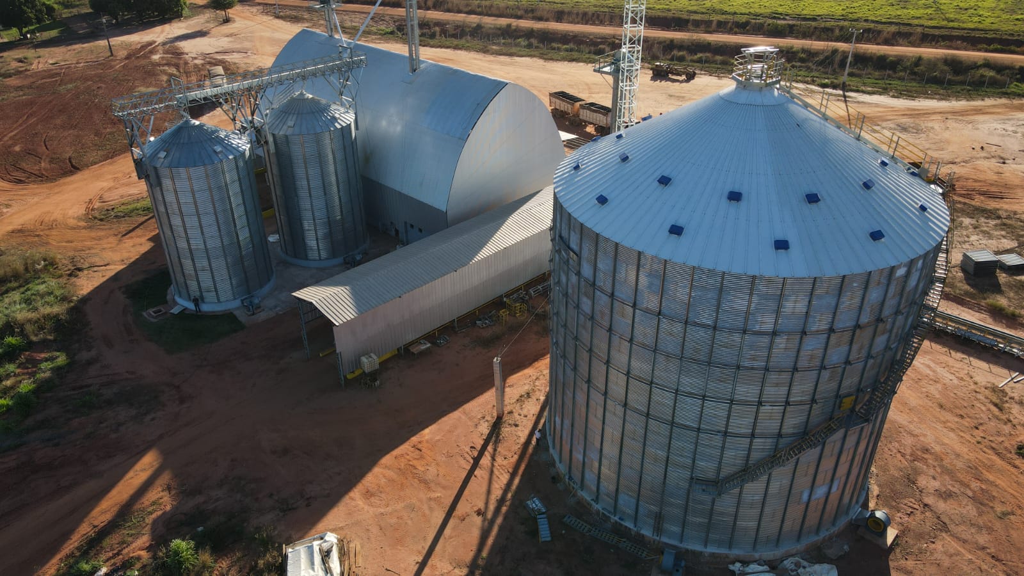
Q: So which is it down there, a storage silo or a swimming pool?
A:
storage silo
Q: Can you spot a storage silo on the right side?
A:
Yes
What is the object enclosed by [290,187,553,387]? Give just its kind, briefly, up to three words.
shed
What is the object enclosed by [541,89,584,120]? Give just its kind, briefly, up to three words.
trailer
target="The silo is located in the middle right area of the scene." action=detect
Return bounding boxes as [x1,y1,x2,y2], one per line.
[541,49,962,566]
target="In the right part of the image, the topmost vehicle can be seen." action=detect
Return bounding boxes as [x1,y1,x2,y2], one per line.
[653,60,701,80]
